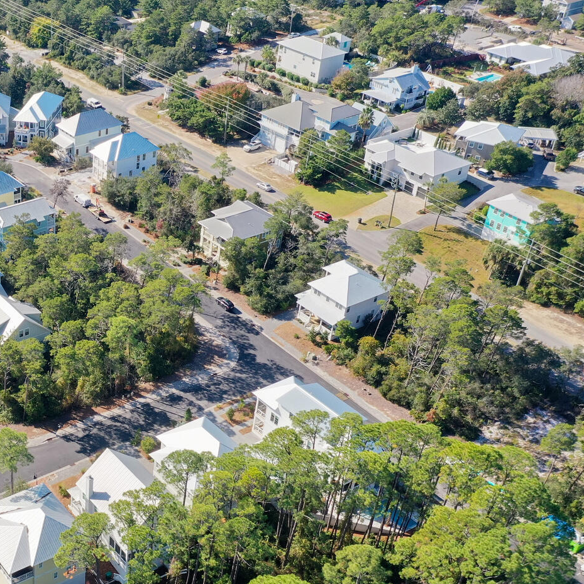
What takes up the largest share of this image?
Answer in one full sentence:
The bulk of the photo consists of trees.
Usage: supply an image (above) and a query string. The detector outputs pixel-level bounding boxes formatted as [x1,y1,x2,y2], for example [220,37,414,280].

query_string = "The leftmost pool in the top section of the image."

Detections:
[343,61,360,74]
